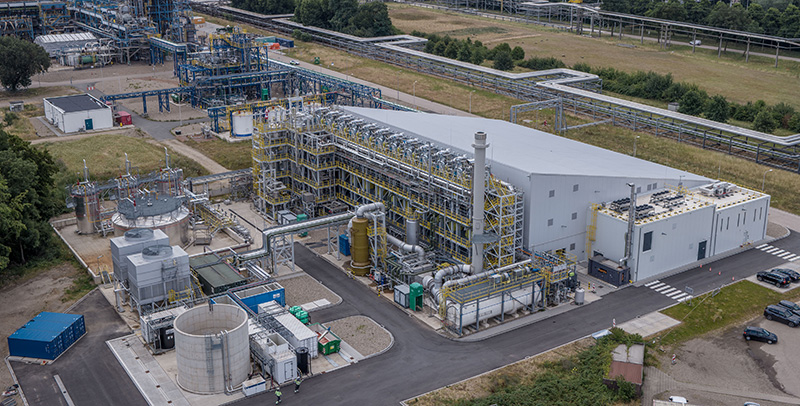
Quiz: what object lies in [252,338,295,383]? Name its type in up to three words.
building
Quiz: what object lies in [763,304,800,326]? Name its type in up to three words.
car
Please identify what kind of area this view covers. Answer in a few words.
industrial area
